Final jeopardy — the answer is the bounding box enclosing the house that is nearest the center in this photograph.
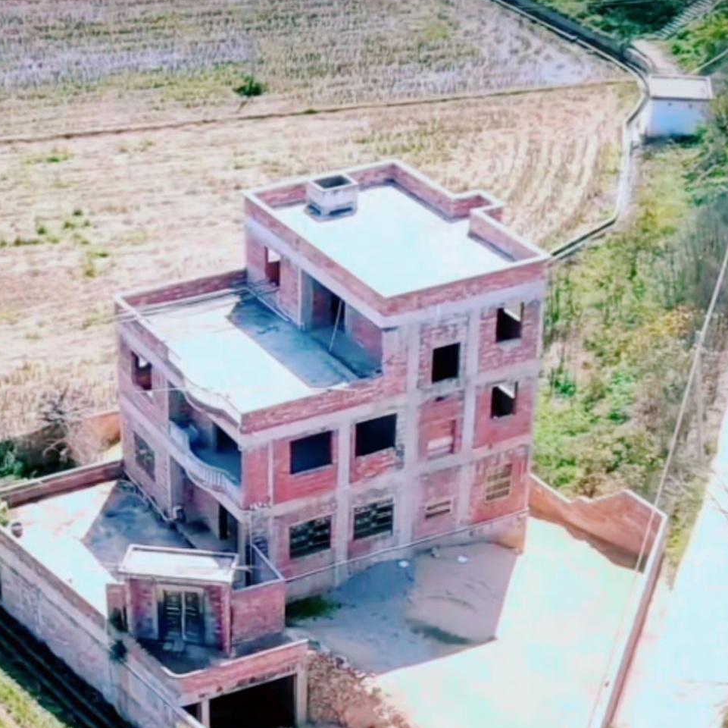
[116,163,548,612]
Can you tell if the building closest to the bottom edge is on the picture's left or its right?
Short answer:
left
